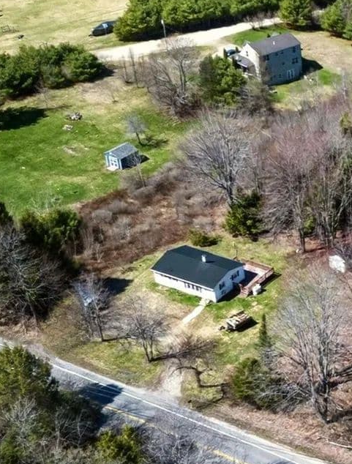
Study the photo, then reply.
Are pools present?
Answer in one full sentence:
No, the picture doesn't show any pool.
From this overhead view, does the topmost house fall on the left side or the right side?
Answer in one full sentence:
It is on the right.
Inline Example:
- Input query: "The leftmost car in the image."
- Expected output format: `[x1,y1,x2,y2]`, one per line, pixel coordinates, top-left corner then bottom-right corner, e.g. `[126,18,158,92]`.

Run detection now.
[91,24,117,37]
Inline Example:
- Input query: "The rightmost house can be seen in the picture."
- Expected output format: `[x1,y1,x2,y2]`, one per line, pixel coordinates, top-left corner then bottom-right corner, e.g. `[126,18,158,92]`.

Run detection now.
[232,32,301,87]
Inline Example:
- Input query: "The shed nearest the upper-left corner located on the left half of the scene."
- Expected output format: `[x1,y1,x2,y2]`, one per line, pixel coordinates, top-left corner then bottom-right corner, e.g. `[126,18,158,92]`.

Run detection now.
[102,140,140,171]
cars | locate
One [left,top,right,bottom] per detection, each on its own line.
[91,24,117,37]
[222,49,239,58]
